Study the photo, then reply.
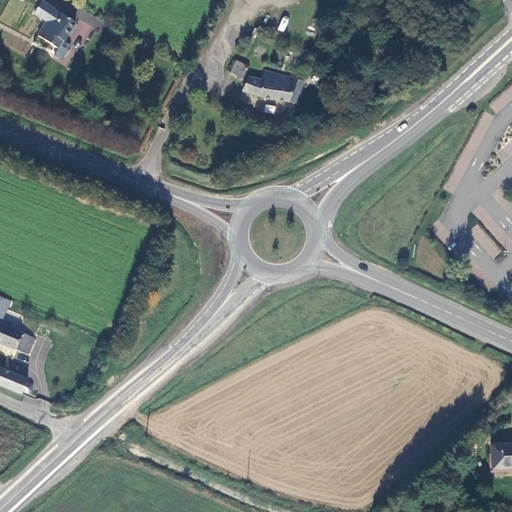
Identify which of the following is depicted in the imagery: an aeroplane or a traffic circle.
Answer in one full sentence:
The one in the frame is a traffic circle.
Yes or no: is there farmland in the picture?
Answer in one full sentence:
Yes, farmland shows up in the scene.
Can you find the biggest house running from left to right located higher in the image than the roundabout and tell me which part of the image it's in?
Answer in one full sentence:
The biggest house running from left to right located higher in the image than the roundabout sits in the top section of the image.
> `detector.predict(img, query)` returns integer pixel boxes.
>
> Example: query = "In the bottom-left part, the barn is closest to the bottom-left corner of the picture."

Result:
[0,368,32,396]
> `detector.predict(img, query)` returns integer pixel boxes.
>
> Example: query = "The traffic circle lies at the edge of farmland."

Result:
[163,104,421,288]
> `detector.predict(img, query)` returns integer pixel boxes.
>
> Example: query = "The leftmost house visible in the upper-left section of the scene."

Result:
[34,0,76,59]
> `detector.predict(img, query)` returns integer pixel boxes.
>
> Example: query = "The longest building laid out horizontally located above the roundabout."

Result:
[242,70,305,104]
